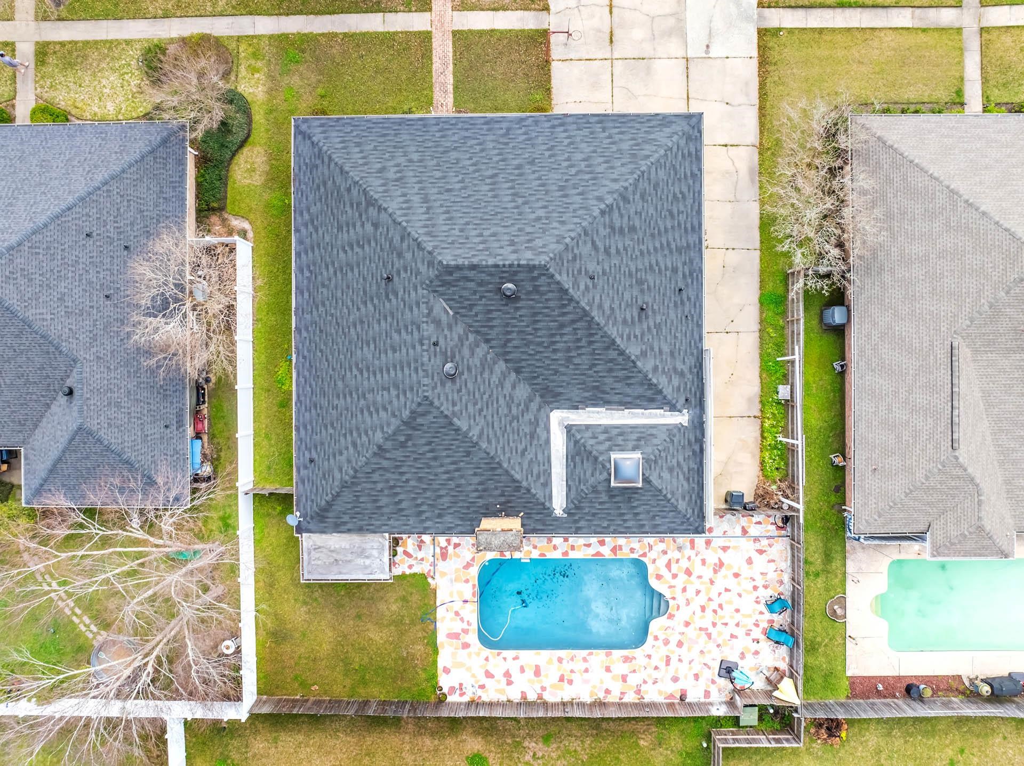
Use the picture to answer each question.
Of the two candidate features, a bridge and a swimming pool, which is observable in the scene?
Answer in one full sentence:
Visible in the photo is a swimming pool.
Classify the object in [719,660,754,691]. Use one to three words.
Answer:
umbrella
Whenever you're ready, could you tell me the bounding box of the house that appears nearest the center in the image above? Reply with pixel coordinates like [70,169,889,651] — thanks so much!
[286,112,713,583]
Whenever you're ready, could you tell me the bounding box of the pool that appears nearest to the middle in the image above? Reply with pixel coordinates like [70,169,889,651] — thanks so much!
[473,553,674,655]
